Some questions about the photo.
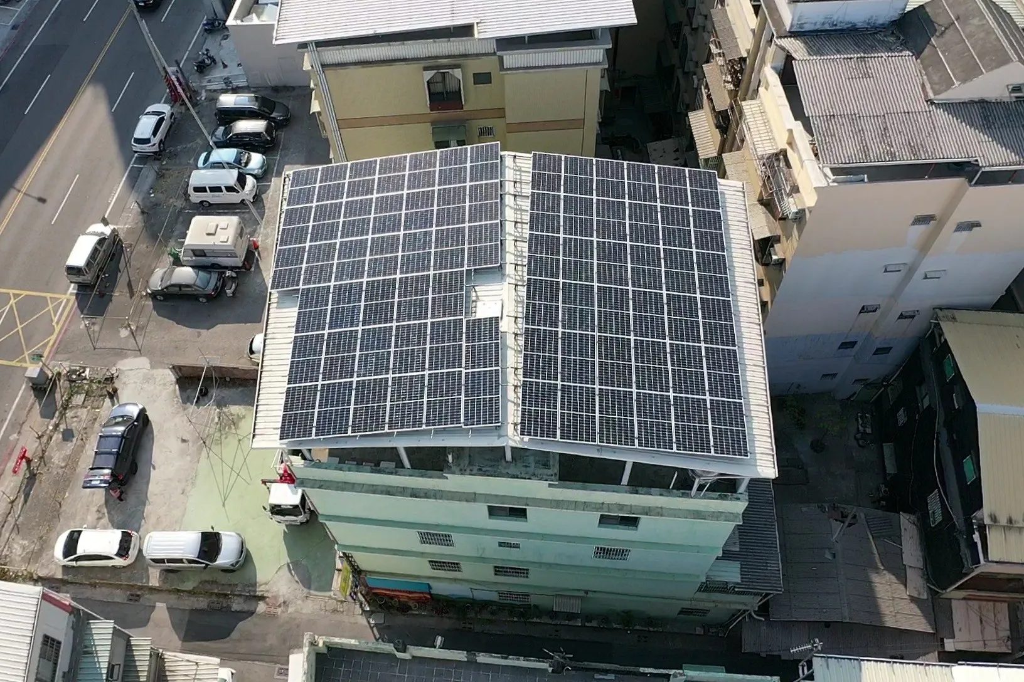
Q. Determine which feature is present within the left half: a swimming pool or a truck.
truck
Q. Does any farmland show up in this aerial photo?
No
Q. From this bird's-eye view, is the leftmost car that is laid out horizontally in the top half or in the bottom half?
bottom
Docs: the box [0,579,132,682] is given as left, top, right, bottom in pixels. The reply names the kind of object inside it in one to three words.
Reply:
building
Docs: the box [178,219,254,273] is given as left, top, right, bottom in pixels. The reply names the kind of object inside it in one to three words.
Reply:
camper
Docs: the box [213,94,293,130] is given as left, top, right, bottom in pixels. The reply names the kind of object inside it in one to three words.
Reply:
car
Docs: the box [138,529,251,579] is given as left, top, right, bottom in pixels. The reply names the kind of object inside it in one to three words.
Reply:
car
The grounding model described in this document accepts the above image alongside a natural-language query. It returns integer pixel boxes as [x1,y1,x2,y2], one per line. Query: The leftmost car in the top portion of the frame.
[64,226,127,287]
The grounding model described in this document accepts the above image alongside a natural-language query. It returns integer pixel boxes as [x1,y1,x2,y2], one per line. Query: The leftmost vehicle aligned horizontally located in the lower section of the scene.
[51,528,147,572]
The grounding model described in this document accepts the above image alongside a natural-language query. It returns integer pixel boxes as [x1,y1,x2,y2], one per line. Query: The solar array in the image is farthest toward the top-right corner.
[515,151,752,457]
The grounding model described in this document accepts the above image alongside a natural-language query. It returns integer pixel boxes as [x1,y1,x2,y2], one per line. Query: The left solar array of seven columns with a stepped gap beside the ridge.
[268,141,505,452]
